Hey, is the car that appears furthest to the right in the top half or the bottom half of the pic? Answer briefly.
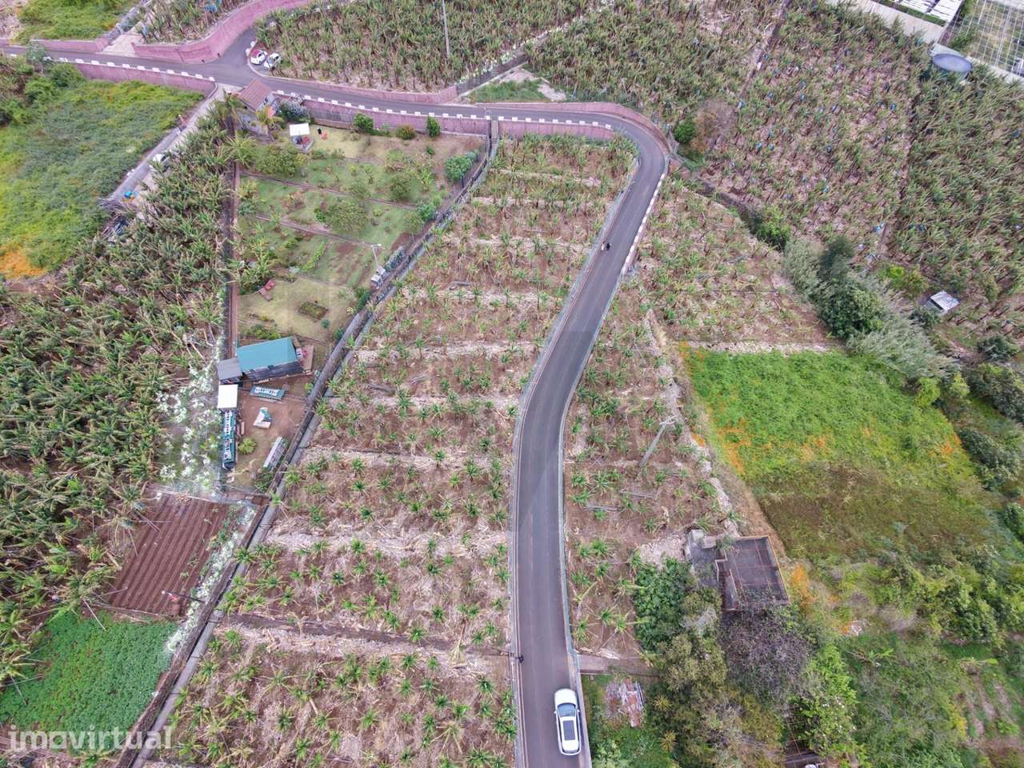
bottom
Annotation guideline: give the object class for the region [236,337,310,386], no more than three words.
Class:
shed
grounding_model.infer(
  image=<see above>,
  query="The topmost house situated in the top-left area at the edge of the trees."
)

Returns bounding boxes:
[241,79,279,128]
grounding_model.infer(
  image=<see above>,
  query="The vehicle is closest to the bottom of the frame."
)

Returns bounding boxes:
[552,690,584,757]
